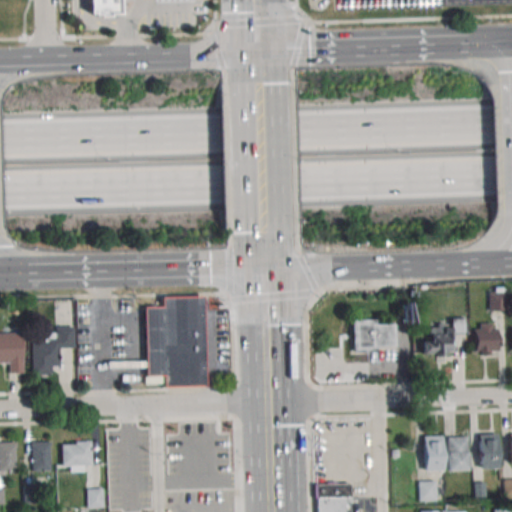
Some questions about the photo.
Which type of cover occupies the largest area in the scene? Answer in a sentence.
The largest share of the image is taken up by paved ground.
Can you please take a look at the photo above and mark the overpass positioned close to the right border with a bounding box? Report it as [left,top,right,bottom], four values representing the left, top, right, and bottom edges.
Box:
[448,62,512,249]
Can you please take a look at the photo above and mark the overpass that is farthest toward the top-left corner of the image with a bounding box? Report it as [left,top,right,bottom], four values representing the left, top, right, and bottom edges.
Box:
[0,74,62,247]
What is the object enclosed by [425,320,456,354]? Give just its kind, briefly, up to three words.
house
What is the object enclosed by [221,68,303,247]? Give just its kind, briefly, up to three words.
overpass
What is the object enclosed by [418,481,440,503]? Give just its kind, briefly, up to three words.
building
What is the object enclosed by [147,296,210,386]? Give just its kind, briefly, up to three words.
building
